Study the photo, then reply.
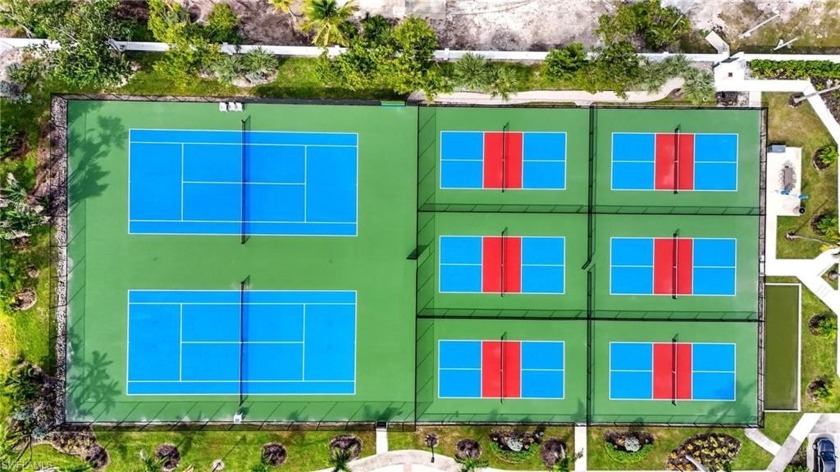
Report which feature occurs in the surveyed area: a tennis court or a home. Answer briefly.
tennis court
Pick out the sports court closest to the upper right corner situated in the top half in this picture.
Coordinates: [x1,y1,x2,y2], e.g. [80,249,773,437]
[611,132,738,190]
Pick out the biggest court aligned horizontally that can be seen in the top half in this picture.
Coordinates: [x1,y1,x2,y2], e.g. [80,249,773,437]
[129,129,358,236]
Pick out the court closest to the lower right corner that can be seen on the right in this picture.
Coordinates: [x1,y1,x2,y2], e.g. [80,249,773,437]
[609,342,736,401]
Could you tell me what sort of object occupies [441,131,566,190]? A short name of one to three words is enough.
sports court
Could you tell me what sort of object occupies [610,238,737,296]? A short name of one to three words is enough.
sports court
